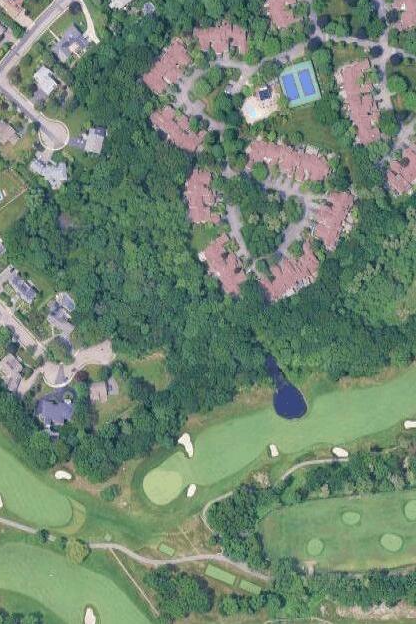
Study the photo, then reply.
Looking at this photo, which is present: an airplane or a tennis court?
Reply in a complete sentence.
The one in the frame is a tennis court.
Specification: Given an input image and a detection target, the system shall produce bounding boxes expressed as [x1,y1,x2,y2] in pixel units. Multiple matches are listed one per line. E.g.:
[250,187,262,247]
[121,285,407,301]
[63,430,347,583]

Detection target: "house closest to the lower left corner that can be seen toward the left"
[36,400,75,427]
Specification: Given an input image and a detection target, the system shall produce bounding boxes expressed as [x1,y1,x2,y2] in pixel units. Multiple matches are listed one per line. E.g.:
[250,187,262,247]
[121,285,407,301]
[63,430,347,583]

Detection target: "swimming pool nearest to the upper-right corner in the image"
[241,95,278,124]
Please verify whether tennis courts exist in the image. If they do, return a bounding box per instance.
[279,68,305,107]
[296,64,321,103]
